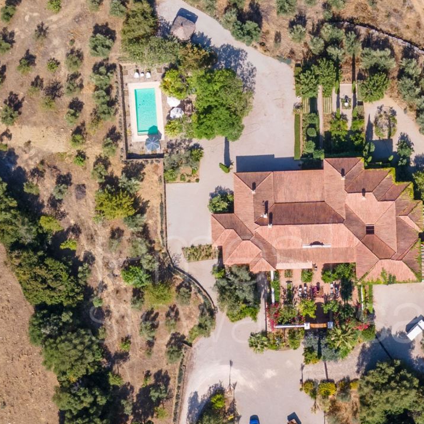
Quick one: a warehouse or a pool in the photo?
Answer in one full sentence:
There is a pool in the scene.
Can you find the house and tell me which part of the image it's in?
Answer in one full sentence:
The house is in the right part of the image.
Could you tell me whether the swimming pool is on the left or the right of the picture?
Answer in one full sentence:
You can find the swimming pool on the left side of the picture.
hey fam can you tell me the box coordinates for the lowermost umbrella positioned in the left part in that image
[145,135,161,152]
